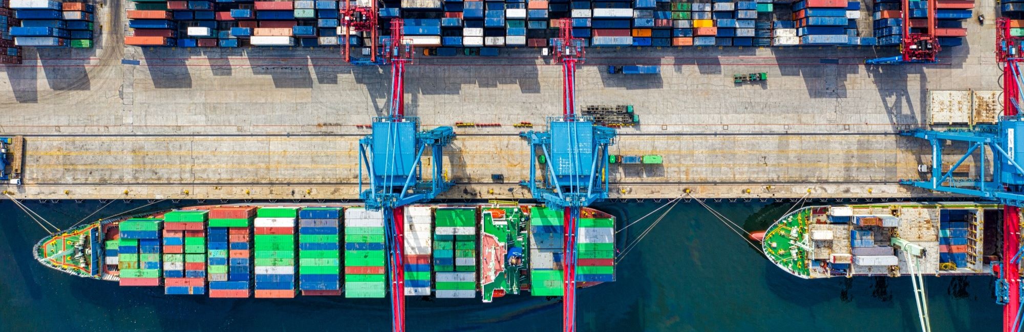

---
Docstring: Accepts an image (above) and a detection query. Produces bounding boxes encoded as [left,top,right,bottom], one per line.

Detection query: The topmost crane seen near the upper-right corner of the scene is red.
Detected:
[864,0,937,65]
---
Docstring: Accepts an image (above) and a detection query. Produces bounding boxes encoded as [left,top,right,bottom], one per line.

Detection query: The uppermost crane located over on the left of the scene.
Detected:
[342,0,391,65]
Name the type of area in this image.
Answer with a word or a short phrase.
port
